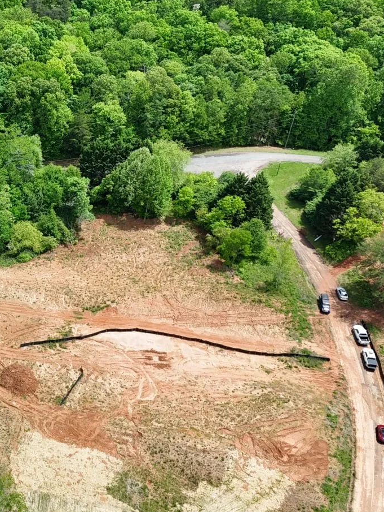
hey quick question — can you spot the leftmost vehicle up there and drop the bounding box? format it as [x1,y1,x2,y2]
[318,294,332,312]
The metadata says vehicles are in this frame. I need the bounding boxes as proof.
[318,294,332,312]
[363,349,381,372]
[377,423,384,443]
[335,286,352,300]
[353,325,371,347]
